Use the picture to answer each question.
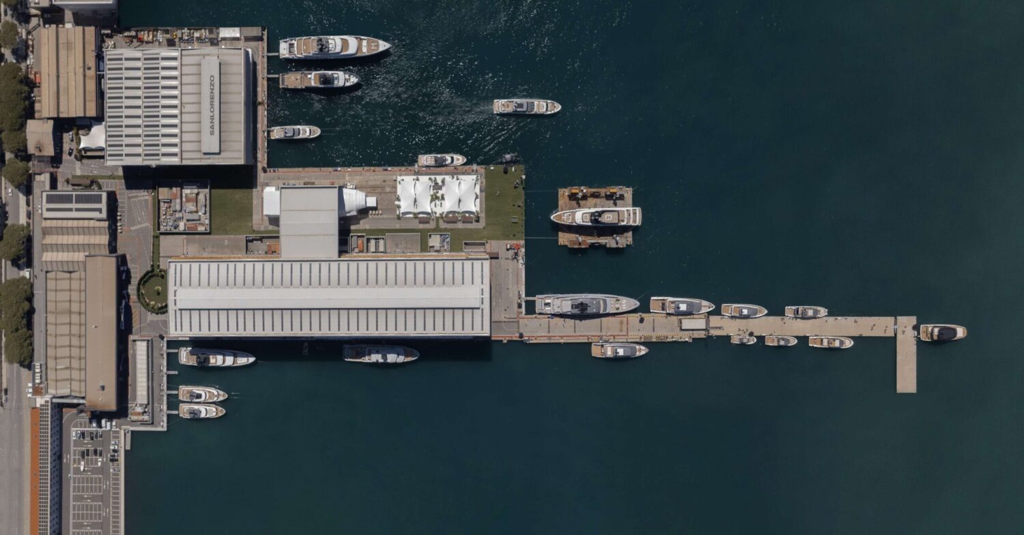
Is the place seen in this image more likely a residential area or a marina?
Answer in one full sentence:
The area seen from above is a marina.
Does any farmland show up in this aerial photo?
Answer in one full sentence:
No, the scene doesn't show any farmland.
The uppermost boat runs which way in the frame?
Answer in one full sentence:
The uppermost boat is laid out from left to right.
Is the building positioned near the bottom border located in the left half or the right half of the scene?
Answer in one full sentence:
The building positioned near the bottom border sits on the left side.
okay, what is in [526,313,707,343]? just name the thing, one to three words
pier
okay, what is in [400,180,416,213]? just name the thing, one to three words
tent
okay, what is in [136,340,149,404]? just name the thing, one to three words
shed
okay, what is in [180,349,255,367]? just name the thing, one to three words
boat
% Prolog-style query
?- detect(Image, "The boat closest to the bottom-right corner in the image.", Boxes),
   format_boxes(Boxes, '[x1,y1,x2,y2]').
[919,325,968,341]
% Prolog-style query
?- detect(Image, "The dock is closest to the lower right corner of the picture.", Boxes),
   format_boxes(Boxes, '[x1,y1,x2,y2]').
[895,316,916,393]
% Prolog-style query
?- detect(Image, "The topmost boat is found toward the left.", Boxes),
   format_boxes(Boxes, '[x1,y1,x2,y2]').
[281,34,391,57]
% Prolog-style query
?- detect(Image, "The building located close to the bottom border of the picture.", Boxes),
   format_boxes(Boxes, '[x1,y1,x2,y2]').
[29,395,62,535]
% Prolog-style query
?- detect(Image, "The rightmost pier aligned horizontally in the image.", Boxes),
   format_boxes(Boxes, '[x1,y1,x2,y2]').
[710,316,895,336]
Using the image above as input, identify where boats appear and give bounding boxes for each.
[551,208,641,227]
[493,99,561,114]
[418,154,466,166]
[765,336,797,346]
[344,345,418,363]
[730,335,756,344]
[650,297,715,313]
[591,343,648,357]
[721,304,767,317]
[536,295,640,314]
[271,125,321,138]
[180,386,227,402]
[281,34,391,57]
[280,71,359,88]
[180,349,255,367]
[919,325,968,341]
[784,306,828,318]
[180,403,225,418]
[809,337,854,348]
